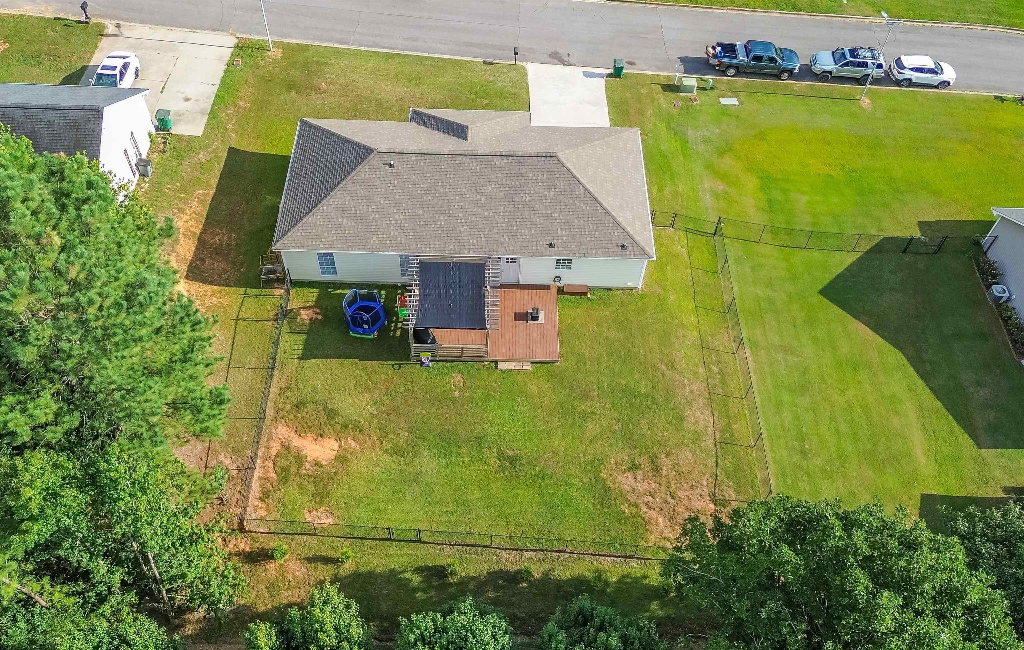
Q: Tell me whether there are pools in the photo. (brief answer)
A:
No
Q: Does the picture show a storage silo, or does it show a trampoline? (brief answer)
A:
trampoline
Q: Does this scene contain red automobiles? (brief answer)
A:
No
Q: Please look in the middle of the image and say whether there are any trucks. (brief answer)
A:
No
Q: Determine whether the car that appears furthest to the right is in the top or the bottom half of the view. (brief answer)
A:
top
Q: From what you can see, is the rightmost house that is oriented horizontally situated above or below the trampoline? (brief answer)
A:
above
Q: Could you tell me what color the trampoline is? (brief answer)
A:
blue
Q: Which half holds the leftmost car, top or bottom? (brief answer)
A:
top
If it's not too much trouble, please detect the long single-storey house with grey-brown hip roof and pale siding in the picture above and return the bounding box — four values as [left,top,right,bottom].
[270,107,656,290]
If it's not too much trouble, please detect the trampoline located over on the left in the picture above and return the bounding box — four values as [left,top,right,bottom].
[344,290,388,340]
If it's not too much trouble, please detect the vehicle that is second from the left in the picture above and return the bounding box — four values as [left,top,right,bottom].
[706,42,802,81]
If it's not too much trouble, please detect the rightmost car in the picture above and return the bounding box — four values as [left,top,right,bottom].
[886,54,956,89]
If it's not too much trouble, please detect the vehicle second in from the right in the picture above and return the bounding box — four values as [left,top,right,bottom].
[808,46,884,85]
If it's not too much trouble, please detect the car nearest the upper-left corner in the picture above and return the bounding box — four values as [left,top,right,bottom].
[91,51,138,88]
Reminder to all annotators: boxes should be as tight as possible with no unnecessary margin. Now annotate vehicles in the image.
[886,54,956,89]
[91,51,138,88]
[706,42,802,81]
[808,46,884,85]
